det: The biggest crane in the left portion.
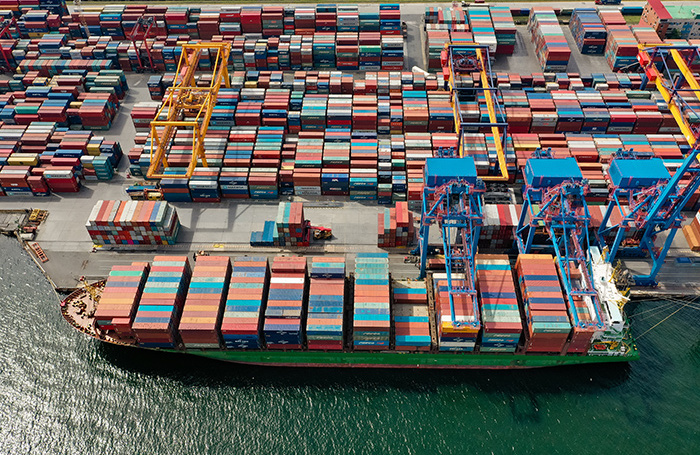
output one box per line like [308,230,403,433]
[147,42,228,178]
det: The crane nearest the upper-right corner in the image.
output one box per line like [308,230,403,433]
[628,40,700,177]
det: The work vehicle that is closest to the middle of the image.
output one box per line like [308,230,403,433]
[300,218,332,242]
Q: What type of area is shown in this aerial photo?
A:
port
